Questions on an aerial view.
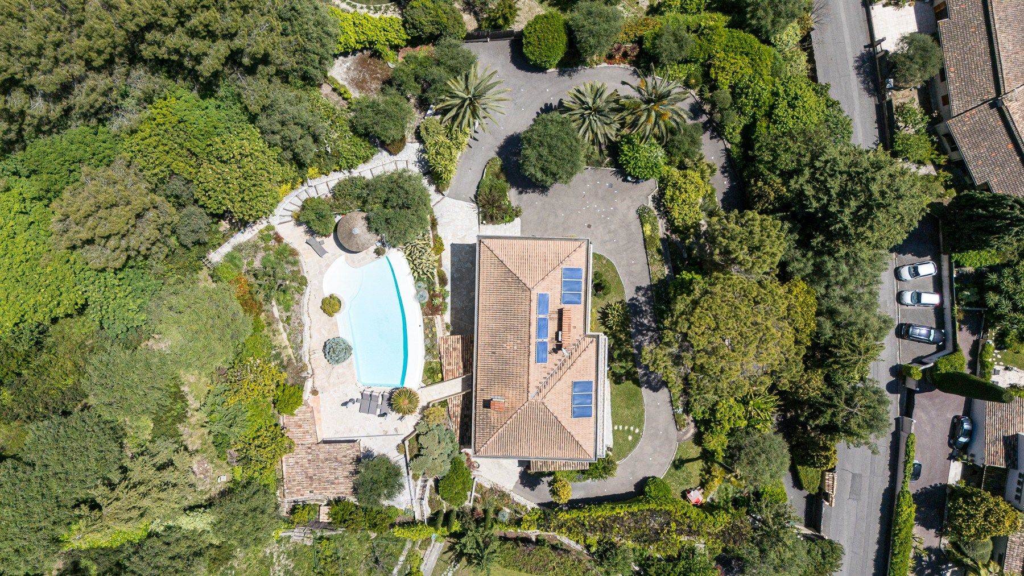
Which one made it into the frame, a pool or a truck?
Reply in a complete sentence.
There is a pool in the scene.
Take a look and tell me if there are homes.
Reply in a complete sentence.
Yes, there is a home in the image.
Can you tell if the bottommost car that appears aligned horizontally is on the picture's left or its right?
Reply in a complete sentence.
It is on the right.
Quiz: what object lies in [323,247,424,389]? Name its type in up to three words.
swimming pool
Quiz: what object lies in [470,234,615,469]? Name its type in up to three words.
house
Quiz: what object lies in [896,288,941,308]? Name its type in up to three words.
car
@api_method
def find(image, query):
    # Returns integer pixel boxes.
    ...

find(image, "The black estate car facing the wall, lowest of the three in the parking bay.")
[898,323,943,345]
